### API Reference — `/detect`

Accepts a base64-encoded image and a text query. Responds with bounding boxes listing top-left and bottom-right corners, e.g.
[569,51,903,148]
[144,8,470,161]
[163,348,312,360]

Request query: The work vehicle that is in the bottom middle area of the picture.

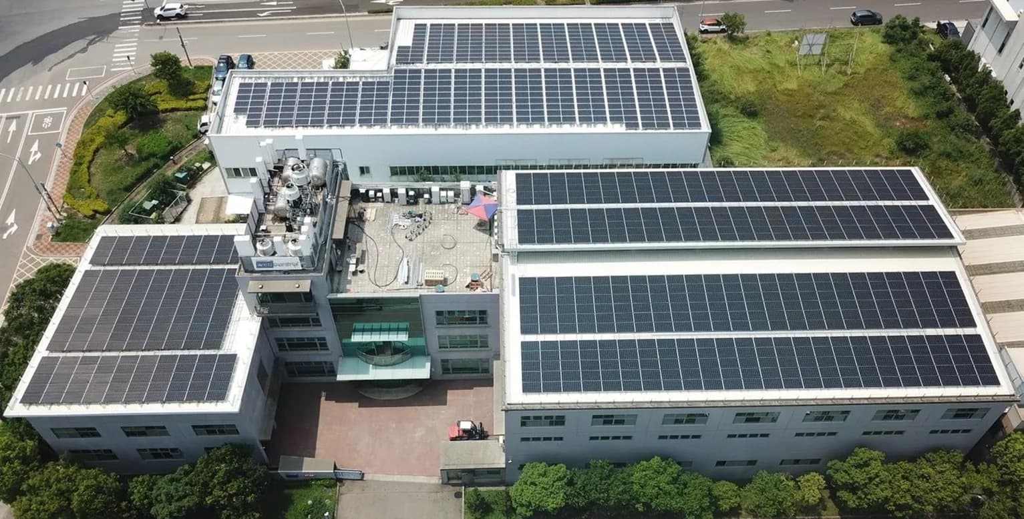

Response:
[448,415,494,440]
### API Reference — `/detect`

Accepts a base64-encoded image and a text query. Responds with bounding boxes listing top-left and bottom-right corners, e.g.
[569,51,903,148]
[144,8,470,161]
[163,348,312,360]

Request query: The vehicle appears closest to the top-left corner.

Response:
[153,1,186,17]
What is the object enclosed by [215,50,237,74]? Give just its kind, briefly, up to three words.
car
